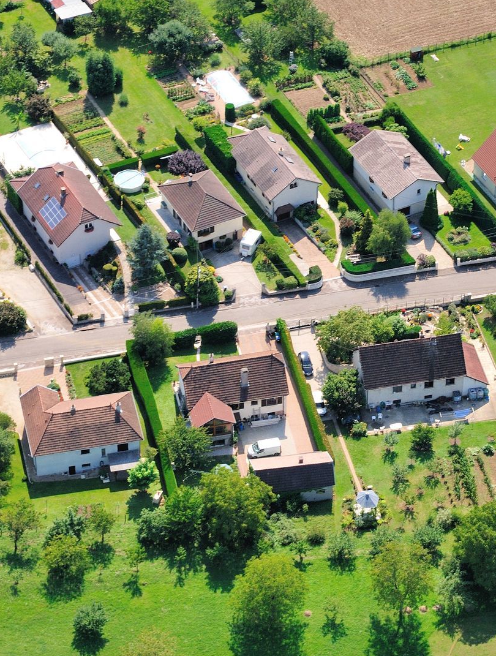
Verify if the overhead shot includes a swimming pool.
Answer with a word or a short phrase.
Yes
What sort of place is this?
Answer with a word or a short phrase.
residential area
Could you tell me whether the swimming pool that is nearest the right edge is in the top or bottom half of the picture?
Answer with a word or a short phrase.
top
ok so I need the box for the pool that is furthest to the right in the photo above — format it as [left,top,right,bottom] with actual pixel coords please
[114,173,145,198]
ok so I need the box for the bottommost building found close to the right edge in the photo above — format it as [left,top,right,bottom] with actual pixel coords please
[354,330,482,407]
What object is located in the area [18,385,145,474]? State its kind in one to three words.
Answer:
house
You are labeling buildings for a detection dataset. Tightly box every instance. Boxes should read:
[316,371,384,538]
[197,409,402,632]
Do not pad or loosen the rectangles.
[254,450,336,509]
[471,133,496,203]
[9,161,124,268]
[410,46,423,61]
[41,0,92,31]
[354,330,482,407]
[175,352,293,446]
[227,126,323,225]
[18,385,145,474]
[157,169,246,250]
[347,130,444,215]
